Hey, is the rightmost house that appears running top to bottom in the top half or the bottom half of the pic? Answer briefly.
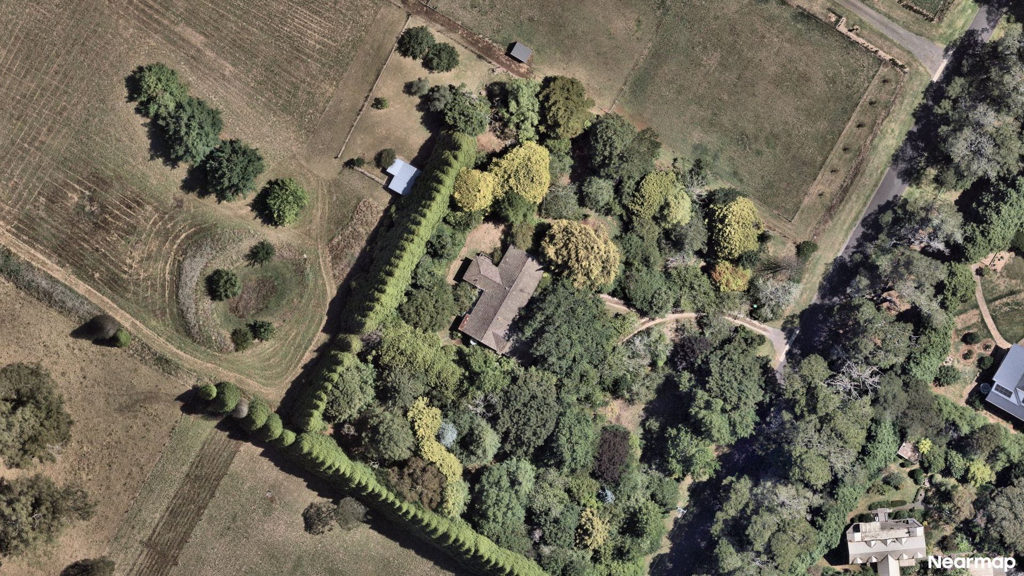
bottom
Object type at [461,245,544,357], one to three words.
house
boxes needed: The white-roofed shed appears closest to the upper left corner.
[387,158,422,196]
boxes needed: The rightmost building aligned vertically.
[986,330,1024,421]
